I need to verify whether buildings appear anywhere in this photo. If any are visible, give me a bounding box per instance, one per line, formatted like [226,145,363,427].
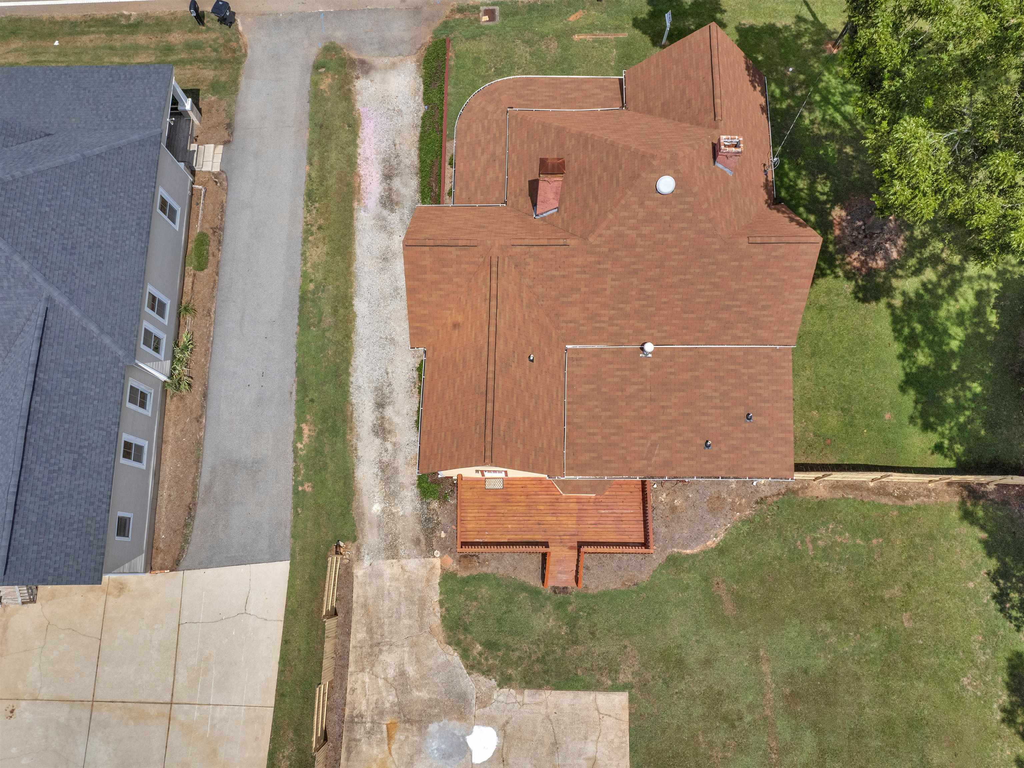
[403,25,819,495]
[0,63,227,587]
